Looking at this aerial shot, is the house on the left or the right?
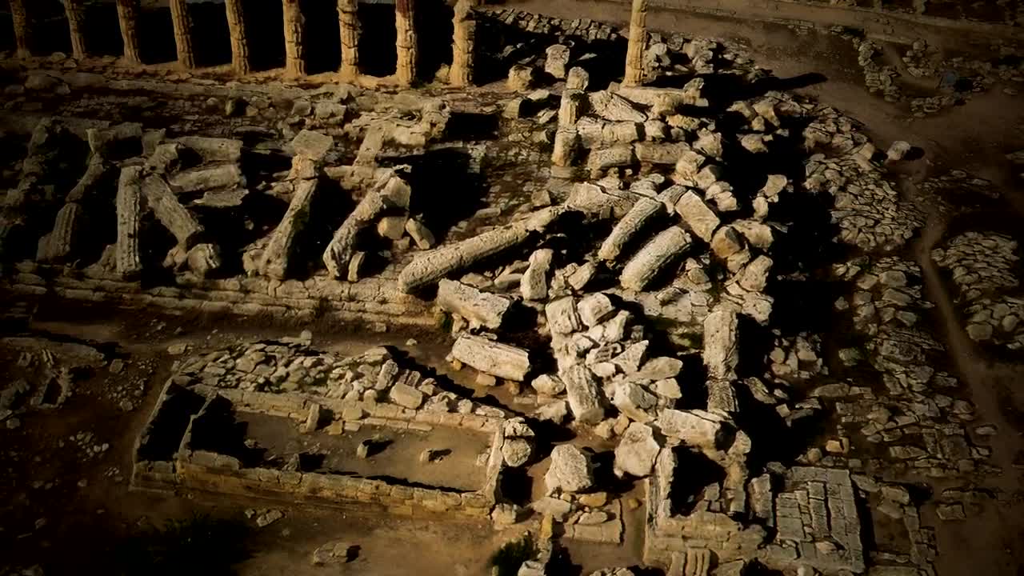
left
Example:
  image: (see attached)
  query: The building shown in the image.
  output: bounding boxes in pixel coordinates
[133,376,515,523]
